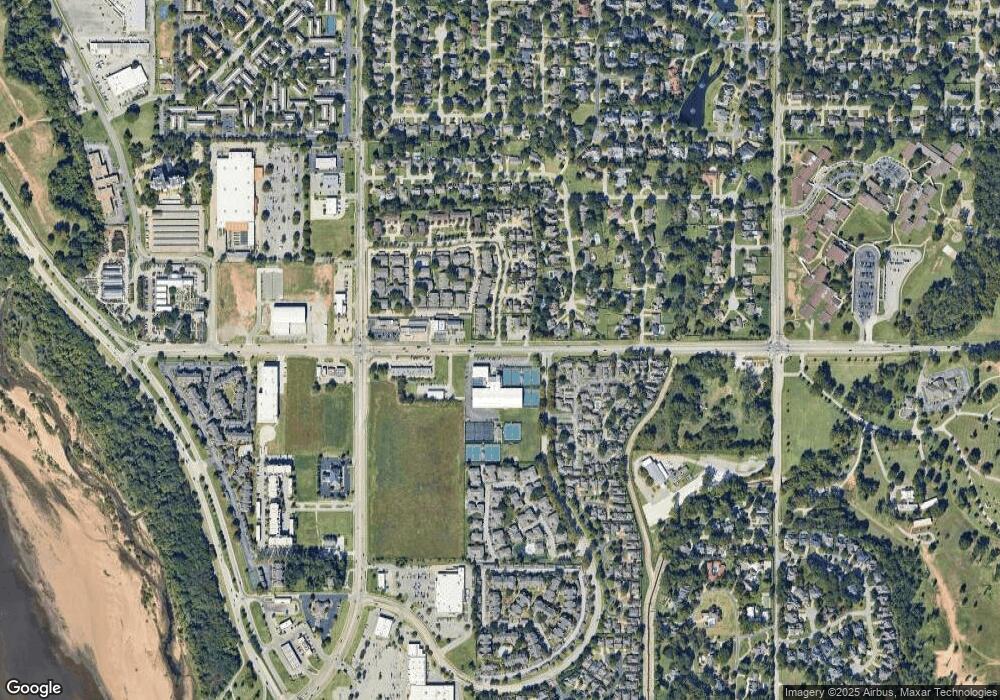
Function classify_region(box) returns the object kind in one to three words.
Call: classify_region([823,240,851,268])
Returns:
building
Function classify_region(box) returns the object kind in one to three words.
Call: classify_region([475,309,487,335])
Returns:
building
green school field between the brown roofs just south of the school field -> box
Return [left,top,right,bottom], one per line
[840,206,891,241]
